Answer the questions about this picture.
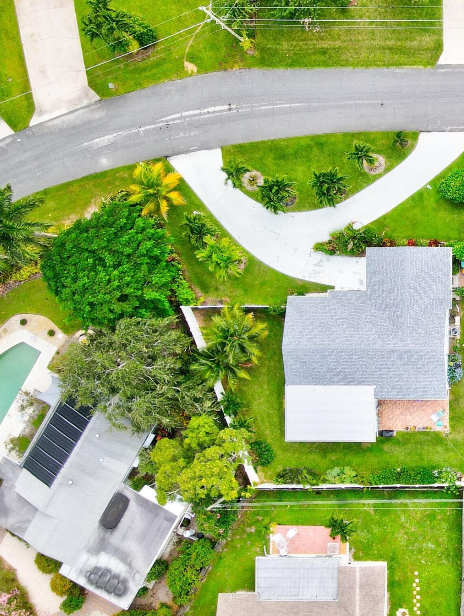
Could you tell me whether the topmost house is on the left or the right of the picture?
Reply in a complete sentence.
The topmost house appears in the right half of the scene.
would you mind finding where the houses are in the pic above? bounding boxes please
[0,379,185,611]
[280,245,453,442]
[215,556,389,616]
